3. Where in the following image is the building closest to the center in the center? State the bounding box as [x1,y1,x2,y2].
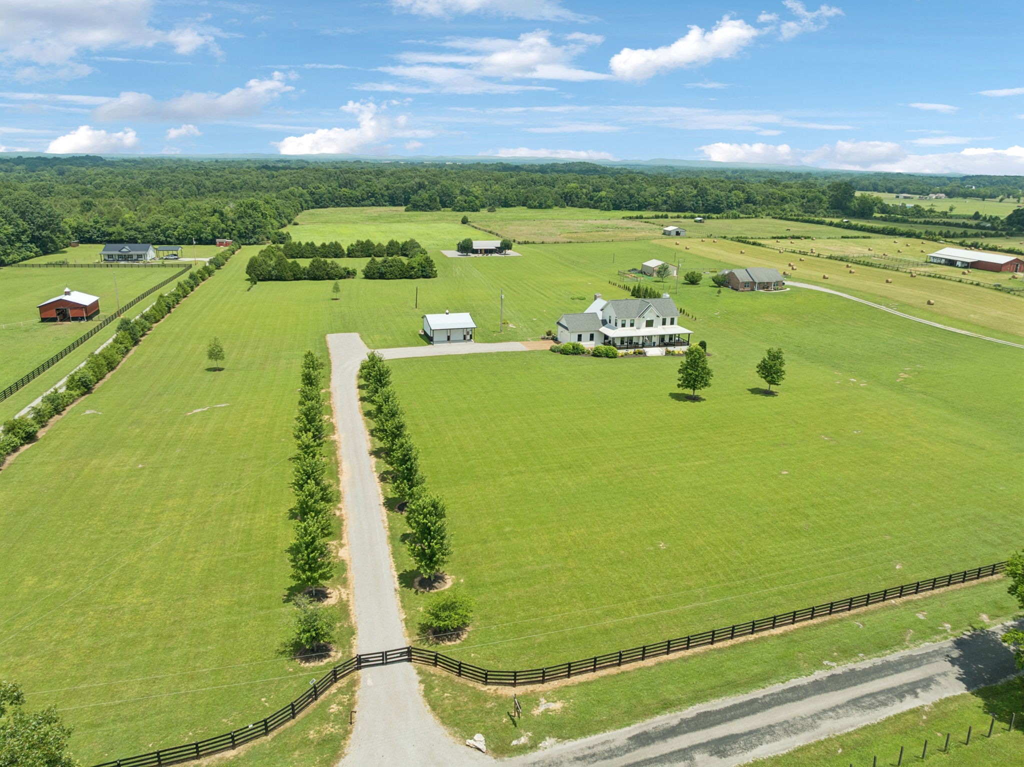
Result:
[421,308,478,345]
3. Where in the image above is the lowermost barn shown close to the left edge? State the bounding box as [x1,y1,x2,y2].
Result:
[37,287,101,322]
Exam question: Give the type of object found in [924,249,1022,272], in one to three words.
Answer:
barn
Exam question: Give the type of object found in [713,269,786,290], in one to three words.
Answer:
house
